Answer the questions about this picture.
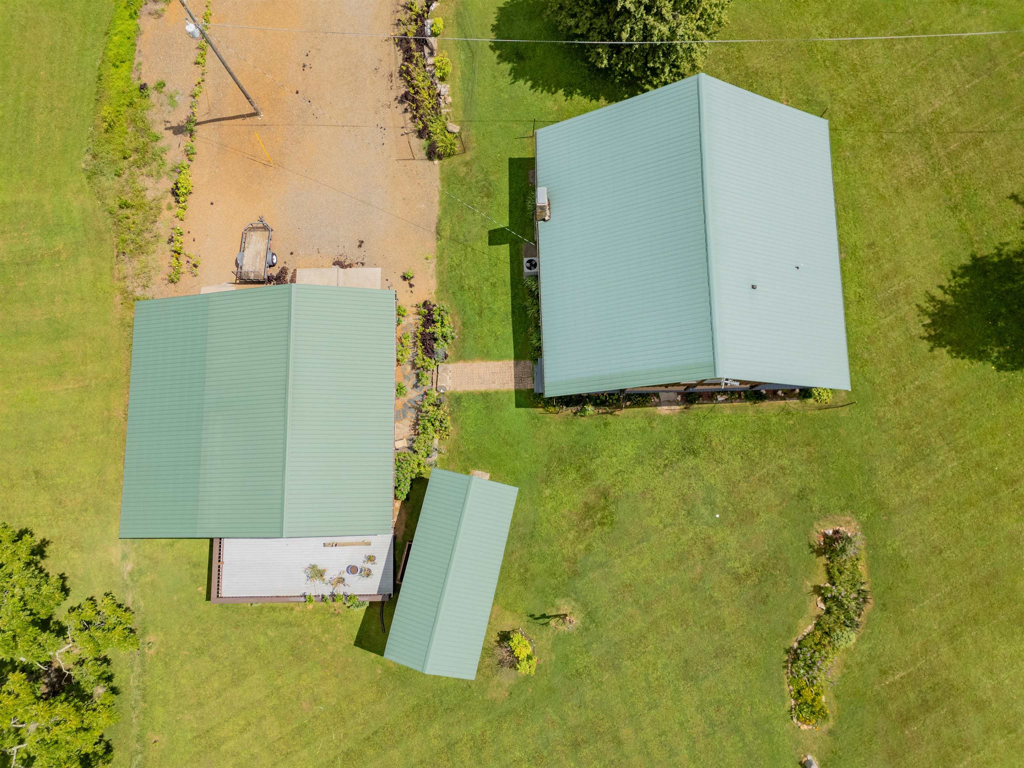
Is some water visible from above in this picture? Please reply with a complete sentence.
No, no water is visible.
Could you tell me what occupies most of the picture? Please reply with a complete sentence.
For the most part, this view shows grass.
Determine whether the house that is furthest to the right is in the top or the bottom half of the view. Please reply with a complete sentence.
You can find the house that is furthest to the right in the top half.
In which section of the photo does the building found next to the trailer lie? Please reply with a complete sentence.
You can find the building found next to the trailer in the left area of the picture.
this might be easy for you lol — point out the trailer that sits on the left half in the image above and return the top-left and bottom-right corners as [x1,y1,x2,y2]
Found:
[229,213,274,281]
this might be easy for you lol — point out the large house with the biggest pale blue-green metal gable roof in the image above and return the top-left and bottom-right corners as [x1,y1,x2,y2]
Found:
[534,72,853,398]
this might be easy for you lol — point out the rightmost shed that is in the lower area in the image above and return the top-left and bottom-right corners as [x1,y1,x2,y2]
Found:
[383,467,519,681]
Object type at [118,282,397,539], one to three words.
building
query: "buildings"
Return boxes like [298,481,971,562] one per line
[118,282,397,539]
[534,72,853,398]
[383,467,519,681]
